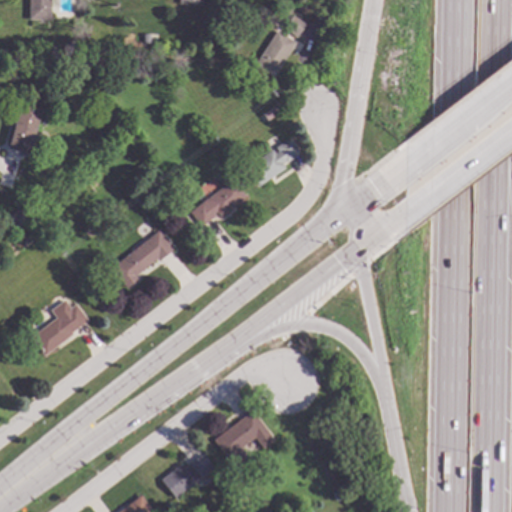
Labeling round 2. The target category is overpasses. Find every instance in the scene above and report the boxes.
[357,60,512,264]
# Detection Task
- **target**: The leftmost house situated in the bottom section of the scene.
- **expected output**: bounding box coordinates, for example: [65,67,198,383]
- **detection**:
[37,298,90,355]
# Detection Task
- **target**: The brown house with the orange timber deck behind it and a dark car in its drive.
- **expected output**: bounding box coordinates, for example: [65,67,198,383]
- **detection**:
[192,179,248,226]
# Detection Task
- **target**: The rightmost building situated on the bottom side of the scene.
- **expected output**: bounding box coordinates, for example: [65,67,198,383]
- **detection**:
[216,410,276,458]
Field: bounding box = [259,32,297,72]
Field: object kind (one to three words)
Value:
house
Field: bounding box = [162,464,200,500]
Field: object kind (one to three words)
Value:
house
